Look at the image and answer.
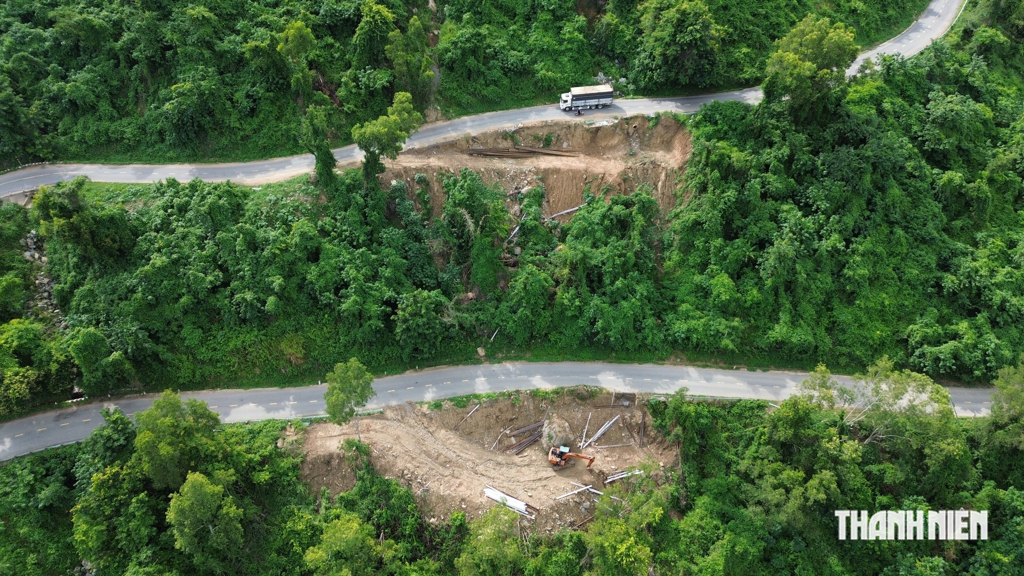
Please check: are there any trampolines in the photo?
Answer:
No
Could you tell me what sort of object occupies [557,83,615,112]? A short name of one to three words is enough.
truck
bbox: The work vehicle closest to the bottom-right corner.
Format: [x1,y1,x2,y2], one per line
[550,448,598,472]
